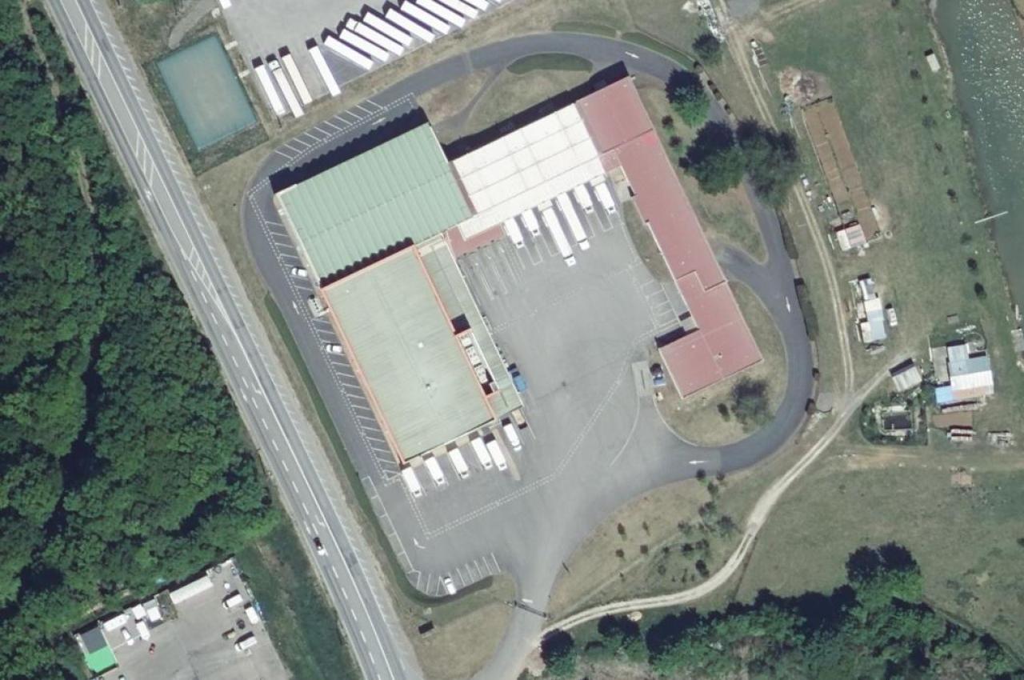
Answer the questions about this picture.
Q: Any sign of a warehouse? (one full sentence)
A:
Yes, I can see a warehouse in this picture.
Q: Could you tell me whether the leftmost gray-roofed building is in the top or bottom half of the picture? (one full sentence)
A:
It is in the bottom half that the leftmost gray-roofed building appears.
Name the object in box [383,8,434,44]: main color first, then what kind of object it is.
white trailer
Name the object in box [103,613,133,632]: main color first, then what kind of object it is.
white camper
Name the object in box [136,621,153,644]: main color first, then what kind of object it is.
white vehicle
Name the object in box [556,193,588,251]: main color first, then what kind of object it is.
white truck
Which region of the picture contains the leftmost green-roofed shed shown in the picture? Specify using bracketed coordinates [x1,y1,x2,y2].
[86,646,116,673]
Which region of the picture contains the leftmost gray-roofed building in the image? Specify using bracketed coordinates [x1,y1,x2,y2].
[82,628,107,653]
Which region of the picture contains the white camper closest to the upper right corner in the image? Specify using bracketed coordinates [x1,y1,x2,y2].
[886,308,899,331]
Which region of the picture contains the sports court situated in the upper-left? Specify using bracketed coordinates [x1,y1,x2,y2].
[156,36,256,151]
